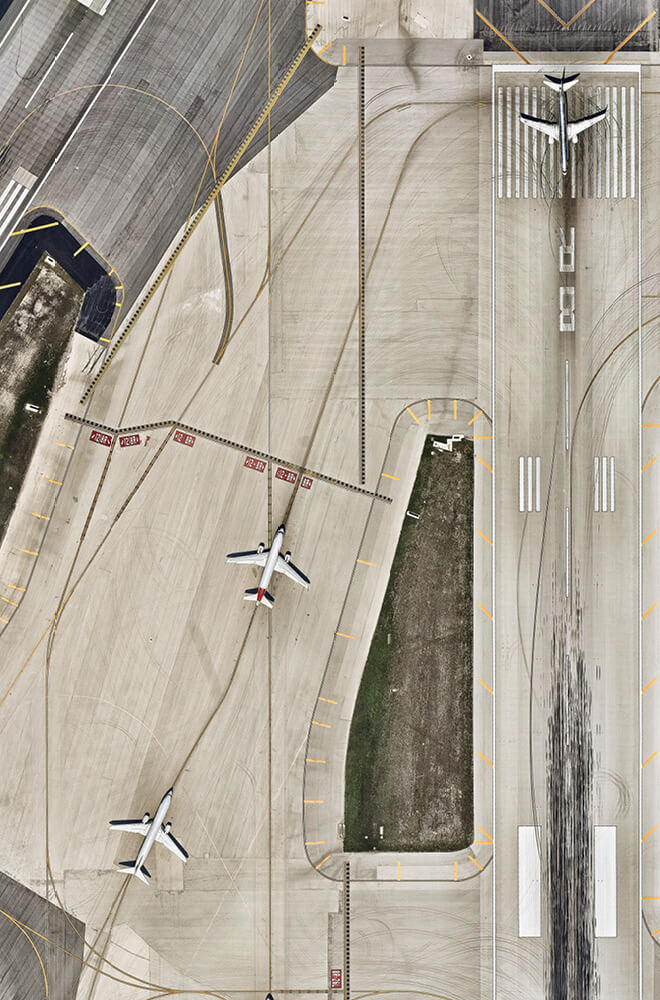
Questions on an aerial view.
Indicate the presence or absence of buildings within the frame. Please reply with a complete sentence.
No, there isn't any building down there.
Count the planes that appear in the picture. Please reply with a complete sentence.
In total, 3 planes can be seen.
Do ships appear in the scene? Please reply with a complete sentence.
No, this view has no ship in it.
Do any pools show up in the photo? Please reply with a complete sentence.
No, I can see no pool in this picture.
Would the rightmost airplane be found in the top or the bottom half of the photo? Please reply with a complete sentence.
Seen from above, the rightmost airplane lies in the top half of the view.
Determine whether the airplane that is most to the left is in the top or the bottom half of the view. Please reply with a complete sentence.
You can find the airplane that is most to the left in the bottom half.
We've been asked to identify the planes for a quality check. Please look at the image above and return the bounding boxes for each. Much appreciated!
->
[227,527,309,607]
[108,790,187,886]
[519,76,608,174]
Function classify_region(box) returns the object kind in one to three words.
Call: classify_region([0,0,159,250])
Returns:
runway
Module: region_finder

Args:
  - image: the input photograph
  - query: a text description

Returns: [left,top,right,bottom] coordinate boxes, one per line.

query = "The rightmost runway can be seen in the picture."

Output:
[492,65,660,1000]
